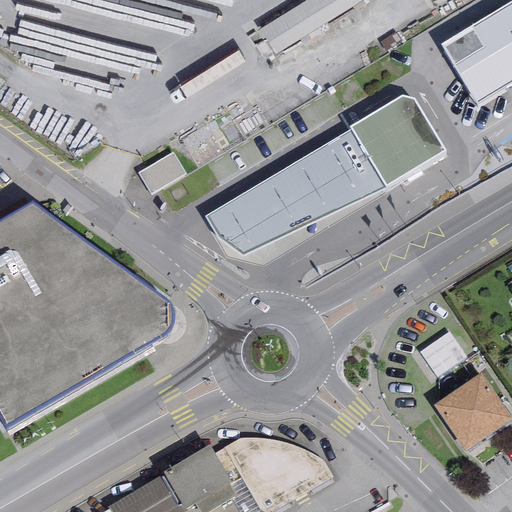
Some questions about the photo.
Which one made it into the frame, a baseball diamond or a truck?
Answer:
truck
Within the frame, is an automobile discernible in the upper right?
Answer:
Yes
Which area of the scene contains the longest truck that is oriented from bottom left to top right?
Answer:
top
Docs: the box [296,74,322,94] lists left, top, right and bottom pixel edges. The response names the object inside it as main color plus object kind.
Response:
white vehicle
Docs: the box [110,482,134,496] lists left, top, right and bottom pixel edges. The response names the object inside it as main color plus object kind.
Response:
white vehicle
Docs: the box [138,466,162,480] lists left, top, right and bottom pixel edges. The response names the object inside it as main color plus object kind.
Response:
black vehicle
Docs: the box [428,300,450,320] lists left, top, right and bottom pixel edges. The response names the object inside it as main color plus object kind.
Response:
white car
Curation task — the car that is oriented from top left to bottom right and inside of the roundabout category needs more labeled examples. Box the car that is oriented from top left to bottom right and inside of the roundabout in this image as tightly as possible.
[250,298,271,314]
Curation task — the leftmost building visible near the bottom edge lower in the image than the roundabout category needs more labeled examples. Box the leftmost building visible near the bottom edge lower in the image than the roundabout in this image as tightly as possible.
[104,474,182,512]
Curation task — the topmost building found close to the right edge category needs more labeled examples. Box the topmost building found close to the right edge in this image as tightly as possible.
[441,2,512,109]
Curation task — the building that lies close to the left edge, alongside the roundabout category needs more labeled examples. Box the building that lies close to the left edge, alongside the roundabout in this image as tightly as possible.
[0,197,175,434]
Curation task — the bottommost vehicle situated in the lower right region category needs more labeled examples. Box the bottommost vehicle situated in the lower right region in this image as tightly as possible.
[370,486,384,505]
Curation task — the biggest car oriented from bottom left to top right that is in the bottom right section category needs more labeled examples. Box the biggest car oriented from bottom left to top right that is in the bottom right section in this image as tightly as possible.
[436,372,456,389]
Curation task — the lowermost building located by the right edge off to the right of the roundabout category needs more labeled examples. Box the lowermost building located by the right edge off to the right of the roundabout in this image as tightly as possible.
[434,372,512,454]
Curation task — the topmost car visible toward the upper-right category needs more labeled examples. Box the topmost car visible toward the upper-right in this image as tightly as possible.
[389,50,412,66]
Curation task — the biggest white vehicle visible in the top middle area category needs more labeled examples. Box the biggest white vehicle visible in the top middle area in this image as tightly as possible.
[170,49,246,106]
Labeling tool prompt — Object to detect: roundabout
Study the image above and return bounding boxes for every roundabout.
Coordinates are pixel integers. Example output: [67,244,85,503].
[154,290,334,414]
